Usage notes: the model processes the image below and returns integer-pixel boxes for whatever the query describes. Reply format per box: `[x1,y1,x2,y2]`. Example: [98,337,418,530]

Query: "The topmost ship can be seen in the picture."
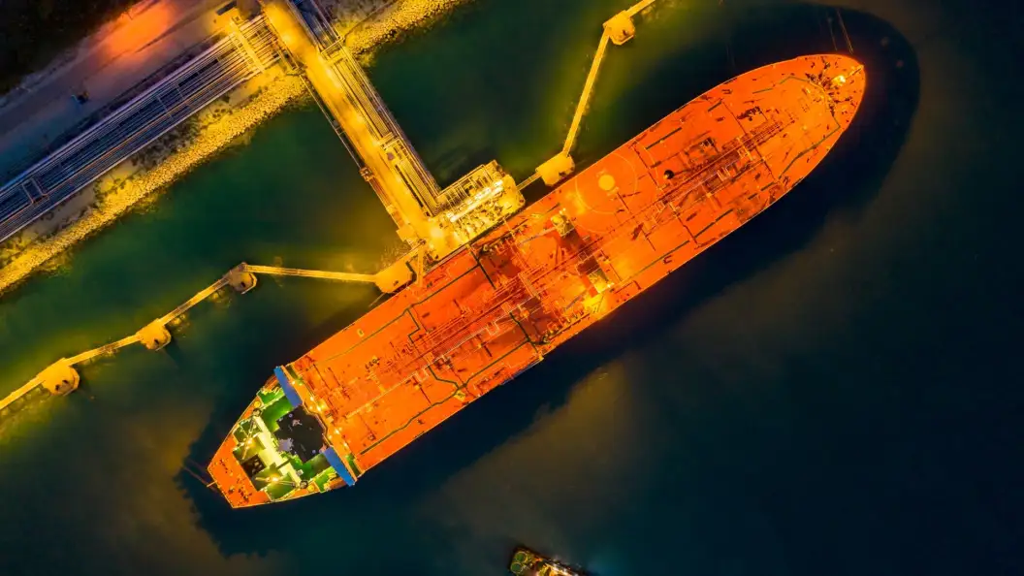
[207,54,866,508]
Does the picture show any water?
Yes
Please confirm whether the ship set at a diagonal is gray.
No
